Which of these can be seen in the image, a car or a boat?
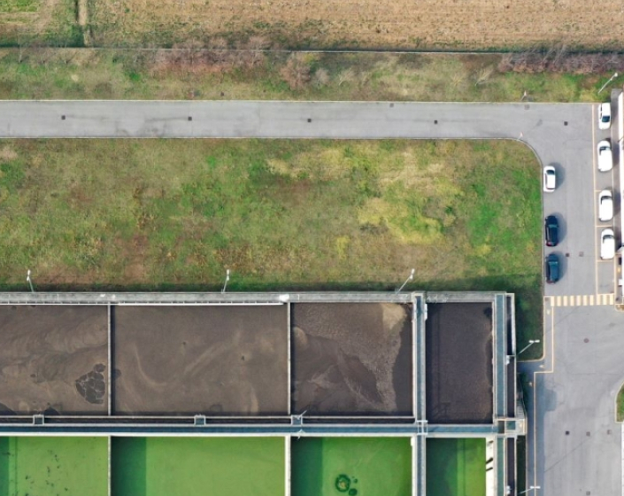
car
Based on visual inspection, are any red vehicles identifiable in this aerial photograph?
No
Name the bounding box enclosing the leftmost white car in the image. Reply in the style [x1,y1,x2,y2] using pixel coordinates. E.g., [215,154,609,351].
[541,167,557,195]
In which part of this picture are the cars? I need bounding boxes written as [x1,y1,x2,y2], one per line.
[541,167,557,195]
[543,216,561,247]
[597,192,614,222]
[594,142,613,174]
[595,102,613,132]
[544,256,561,285]
[598,231,617,260]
